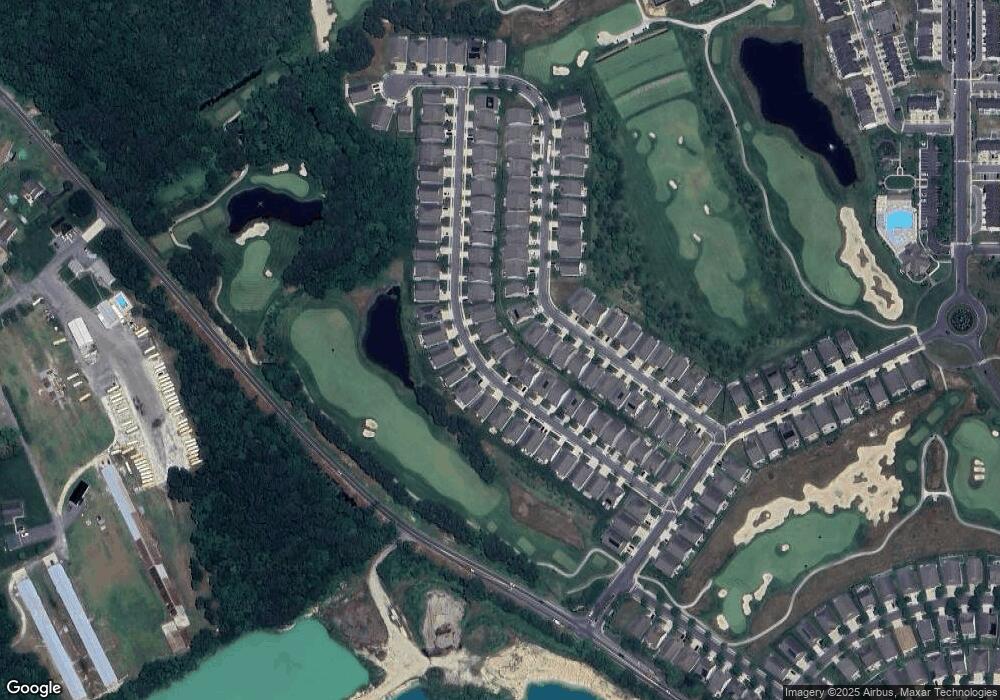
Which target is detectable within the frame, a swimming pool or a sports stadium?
swimming pool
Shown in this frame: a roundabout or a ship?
roundabout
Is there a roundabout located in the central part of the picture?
No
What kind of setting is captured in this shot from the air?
residential area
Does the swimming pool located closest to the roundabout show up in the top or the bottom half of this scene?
top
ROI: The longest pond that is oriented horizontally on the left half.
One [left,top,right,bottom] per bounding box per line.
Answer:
[228,186,324,234]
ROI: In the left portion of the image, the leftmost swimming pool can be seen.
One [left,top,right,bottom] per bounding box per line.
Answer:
[112,292,133,314]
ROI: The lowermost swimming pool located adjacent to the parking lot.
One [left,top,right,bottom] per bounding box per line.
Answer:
[876,195,918,255]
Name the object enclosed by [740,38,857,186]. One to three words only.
pond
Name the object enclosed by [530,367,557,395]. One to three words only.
house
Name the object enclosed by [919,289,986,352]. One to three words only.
roundabout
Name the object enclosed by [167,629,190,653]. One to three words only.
shed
